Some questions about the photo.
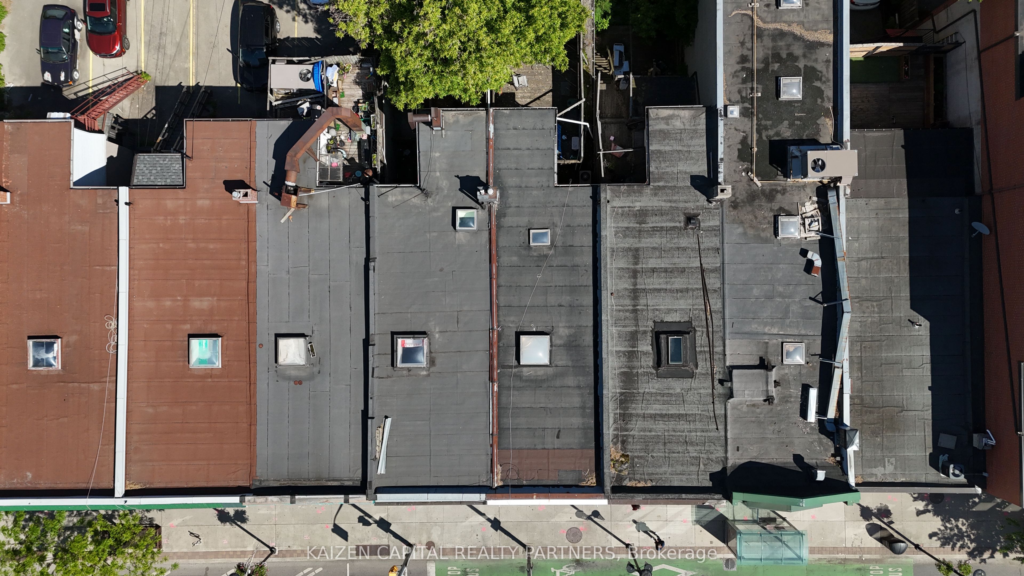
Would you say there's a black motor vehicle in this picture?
Yes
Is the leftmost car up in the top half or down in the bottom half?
top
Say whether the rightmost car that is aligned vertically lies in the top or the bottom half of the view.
top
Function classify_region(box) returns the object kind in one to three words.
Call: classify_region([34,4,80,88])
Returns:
car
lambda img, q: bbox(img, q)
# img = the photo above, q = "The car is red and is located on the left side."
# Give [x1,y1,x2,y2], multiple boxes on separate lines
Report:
[81,0,131,61]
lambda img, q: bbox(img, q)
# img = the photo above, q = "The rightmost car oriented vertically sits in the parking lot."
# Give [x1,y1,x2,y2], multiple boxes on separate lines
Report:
[235,0,281,91]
